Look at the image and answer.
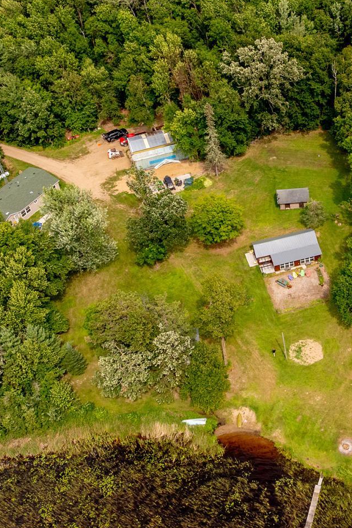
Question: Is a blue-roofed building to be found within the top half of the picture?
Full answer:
No, no blue-roofed building is visible within the top half of the picture.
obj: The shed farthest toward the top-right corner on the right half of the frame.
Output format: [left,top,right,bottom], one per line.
[276,186,307,211]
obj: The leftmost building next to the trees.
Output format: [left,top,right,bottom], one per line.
[0,167,58,230]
